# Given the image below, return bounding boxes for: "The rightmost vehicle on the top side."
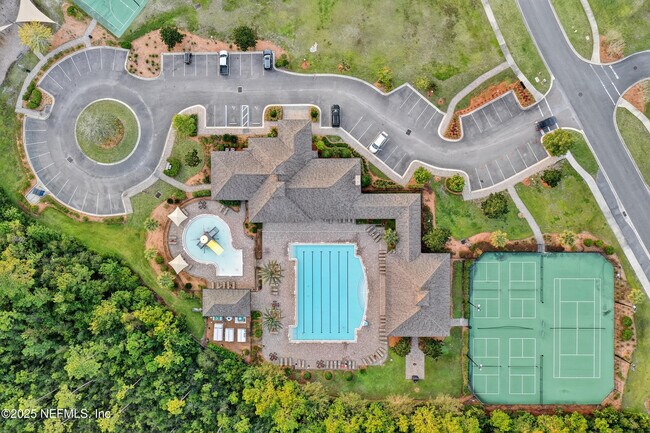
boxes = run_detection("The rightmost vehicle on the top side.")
[535,116,557,130]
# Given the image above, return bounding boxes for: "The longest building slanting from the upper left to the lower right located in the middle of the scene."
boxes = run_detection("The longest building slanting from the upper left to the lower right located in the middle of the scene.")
[211,120,451,336]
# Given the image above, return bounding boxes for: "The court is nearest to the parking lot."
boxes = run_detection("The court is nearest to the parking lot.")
[77,0,151,37]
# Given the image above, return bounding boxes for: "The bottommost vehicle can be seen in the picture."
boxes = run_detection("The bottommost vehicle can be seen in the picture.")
[371,130,388,152]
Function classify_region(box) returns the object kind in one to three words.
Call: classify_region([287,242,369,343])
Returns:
swimming pool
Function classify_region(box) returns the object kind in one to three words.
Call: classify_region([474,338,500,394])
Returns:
sports court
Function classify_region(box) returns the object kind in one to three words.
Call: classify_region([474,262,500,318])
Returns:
sports court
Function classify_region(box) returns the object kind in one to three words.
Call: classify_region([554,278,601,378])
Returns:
tennis court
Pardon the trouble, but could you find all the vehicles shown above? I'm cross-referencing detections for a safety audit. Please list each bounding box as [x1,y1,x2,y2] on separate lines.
[371,130,388,152]
[219,51,229,76]
[331,105,340,128]
[183,53,191,65]
[535,116,557,130]
[263,50,272,70]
